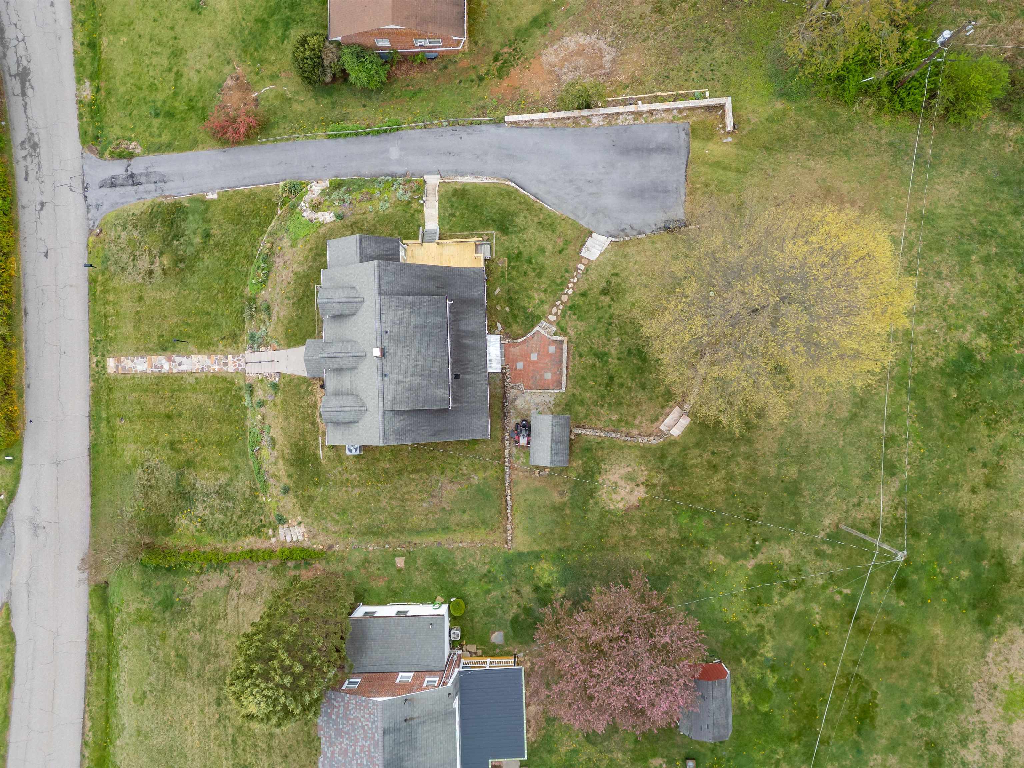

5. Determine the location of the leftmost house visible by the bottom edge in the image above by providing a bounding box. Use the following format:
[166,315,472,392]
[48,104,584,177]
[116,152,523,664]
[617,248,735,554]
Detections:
[315,595,527,768]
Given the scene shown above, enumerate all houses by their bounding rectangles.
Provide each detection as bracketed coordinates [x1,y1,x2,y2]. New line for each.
[303,234,502,447]
[327,0,468,64]
[315,595,527,768]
